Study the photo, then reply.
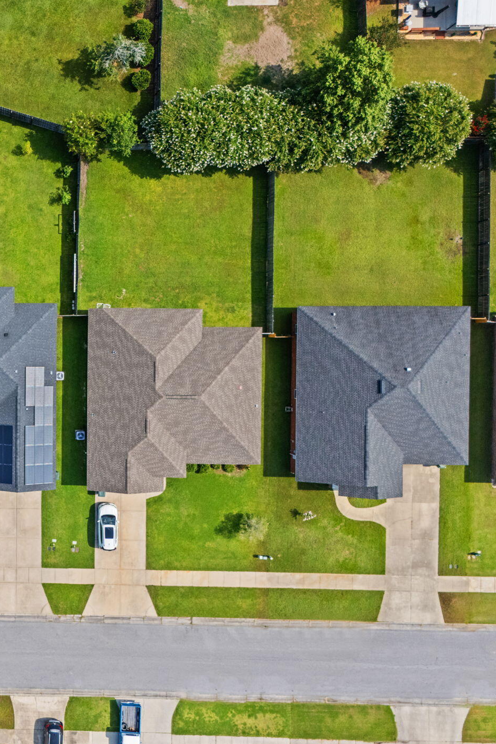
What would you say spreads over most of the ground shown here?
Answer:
grass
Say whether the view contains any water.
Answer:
No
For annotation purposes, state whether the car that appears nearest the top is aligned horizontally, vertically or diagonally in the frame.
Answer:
vertically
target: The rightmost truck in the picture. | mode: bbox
[118,700,144,744]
